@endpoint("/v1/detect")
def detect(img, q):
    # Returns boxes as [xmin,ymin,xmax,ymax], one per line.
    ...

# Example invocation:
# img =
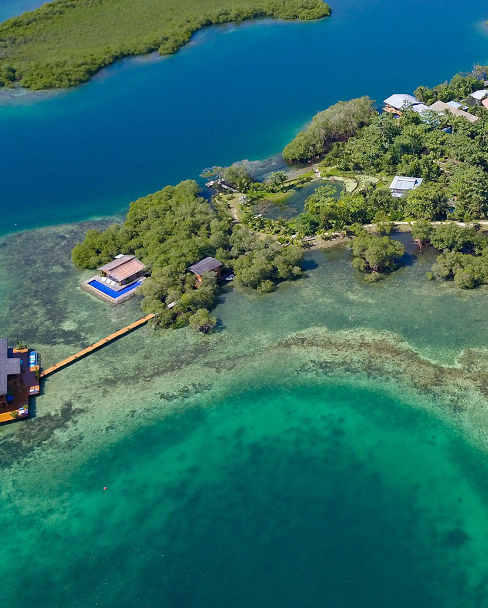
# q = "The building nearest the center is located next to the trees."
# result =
[186,257,231,291]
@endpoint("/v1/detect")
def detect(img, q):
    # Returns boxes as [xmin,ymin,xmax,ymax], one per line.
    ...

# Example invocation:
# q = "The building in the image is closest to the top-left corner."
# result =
[96,254,147,290]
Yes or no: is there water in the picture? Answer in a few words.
Yes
